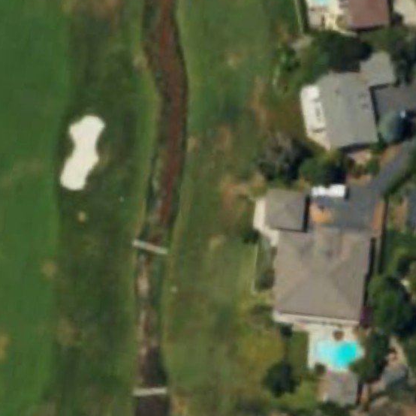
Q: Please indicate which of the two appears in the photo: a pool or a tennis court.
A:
pool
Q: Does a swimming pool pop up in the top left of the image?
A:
No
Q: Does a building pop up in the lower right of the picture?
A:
Yes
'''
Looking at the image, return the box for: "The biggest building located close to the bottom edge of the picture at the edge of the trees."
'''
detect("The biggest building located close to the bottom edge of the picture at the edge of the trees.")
[322,369,360,405]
